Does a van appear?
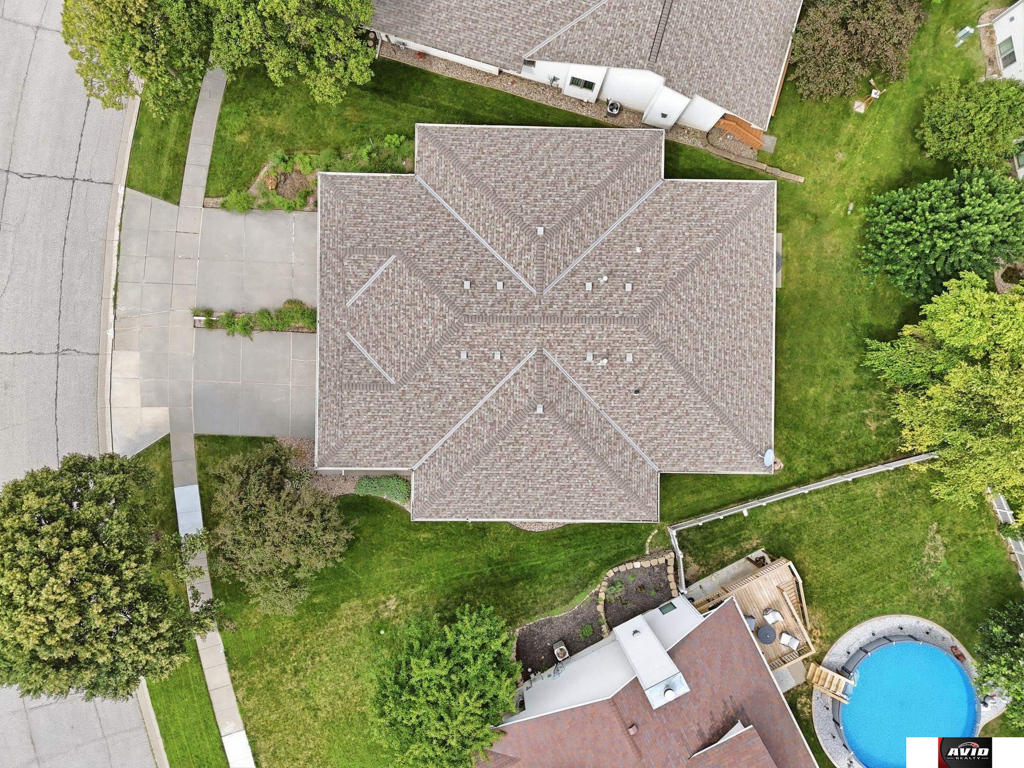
No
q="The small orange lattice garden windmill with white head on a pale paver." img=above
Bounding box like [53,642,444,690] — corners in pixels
[854,77,890,113]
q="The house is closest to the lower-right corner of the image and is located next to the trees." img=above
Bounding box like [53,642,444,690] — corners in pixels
[439,595,833,768]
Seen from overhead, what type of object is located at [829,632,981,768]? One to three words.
swimming pool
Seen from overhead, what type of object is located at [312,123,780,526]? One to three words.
house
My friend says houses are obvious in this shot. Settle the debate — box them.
[357,0,803,132]
[439,595,833,768]
[312,123,780,526]
[976,0,1024,83]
